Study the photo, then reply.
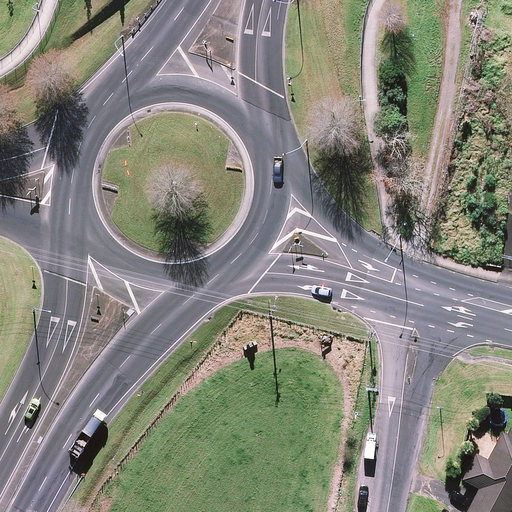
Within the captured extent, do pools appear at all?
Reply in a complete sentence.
No, there's no pool here.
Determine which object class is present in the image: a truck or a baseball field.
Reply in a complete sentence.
There is a truck in the scene.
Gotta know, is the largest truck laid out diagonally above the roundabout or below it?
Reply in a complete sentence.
The position of the largest truck laid out diagonally is below the roundabout.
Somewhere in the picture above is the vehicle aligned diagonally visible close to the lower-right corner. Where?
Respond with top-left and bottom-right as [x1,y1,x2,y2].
[450,490,471,510]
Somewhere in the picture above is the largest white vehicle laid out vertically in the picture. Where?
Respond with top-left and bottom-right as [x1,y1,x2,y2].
[364,434,378,462]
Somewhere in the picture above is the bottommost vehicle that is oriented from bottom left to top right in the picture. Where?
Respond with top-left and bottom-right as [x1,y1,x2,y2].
[68,410,107,460]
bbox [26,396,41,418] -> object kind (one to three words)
car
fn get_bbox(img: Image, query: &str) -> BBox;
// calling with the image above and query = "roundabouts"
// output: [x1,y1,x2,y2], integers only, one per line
[93,102,254,264]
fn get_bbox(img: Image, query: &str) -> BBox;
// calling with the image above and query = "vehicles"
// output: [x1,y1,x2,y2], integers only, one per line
[358,486,368,508]
[311,286,332,296]
[26,396,41,418]
[450,490,471,510]
[68,410,107,460]
[272,158,283,184]
[364,434,378,462]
